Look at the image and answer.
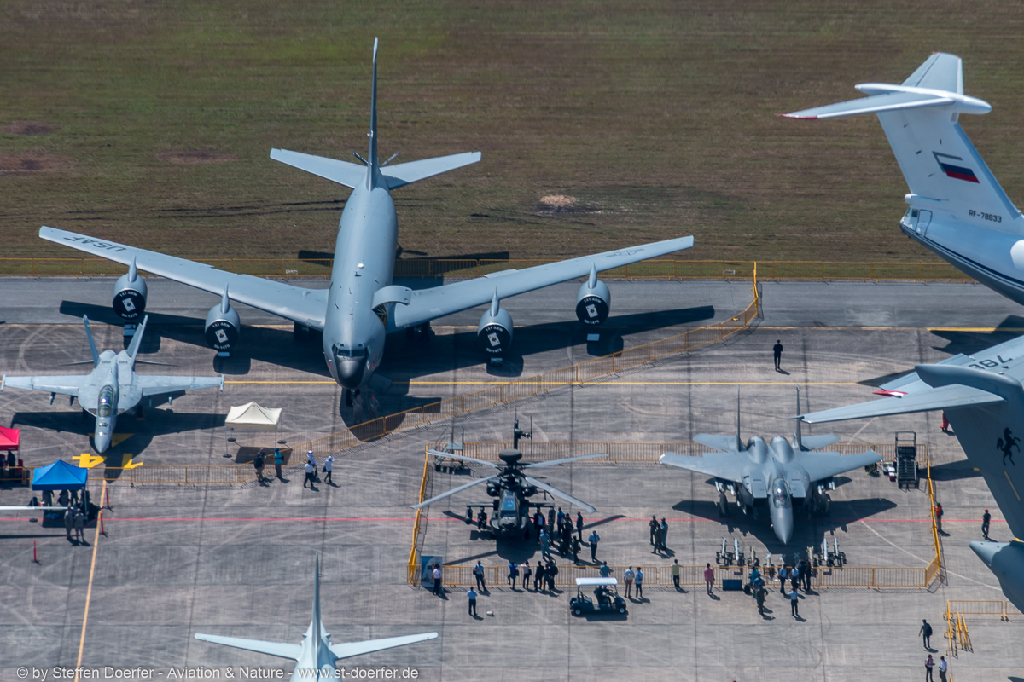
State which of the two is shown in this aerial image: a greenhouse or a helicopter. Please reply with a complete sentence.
The one in the frame is a helicopter.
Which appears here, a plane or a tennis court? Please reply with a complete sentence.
There is a plane in the scene.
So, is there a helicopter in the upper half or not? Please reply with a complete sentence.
No, I see no helicopter in the upper half.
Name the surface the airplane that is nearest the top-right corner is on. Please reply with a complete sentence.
You can see the airplane that is nearest the top-right corner positioned on the grass.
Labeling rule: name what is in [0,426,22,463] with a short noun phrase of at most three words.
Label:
tent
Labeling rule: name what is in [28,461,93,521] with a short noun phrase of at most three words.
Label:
tent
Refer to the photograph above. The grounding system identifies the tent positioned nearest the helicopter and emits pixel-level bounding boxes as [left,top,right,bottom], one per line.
[223,400,286,457]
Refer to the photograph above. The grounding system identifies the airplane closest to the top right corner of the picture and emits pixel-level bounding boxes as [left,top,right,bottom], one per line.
[776,52,1024,398]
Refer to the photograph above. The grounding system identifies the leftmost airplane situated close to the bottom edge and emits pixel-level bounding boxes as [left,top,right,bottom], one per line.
[195,550,440,682]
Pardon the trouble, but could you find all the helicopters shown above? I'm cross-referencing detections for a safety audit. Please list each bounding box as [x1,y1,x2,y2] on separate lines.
[412,407,606,539]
